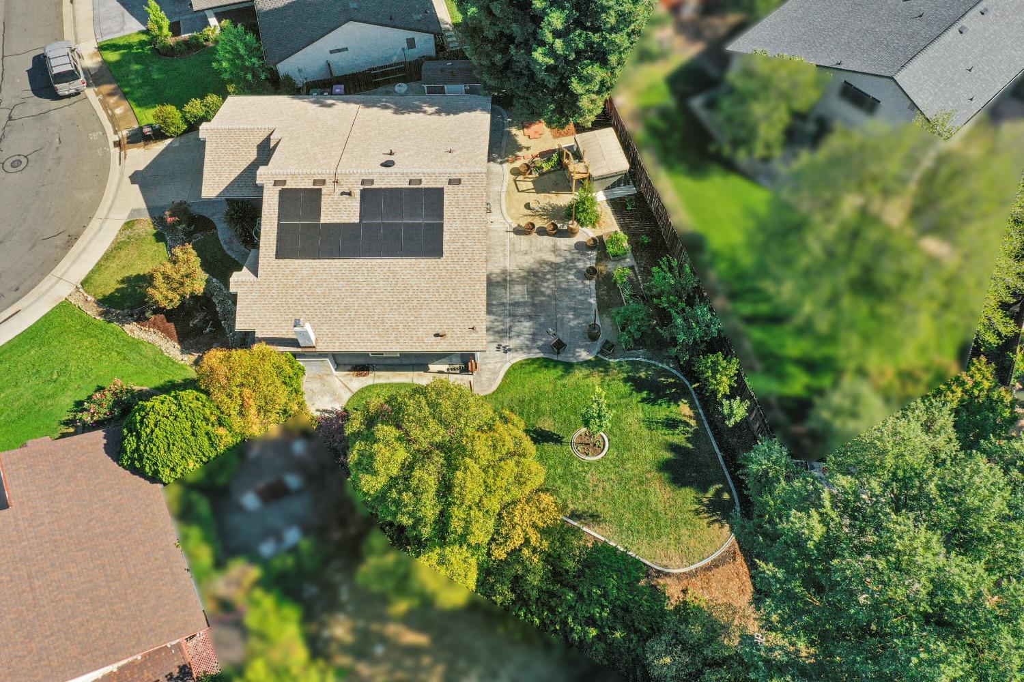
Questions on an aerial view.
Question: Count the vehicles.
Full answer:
Altogether the scene contains 1 vehicle.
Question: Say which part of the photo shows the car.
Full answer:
The car appears toward the top left of the photo.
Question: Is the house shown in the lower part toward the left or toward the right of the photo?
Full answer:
You can find the house shown in the lower part on the left side of the picture.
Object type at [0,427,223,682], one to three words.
house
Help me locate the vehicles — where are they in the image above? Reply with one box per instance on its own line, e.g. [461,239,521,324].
[40,41,87,99]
